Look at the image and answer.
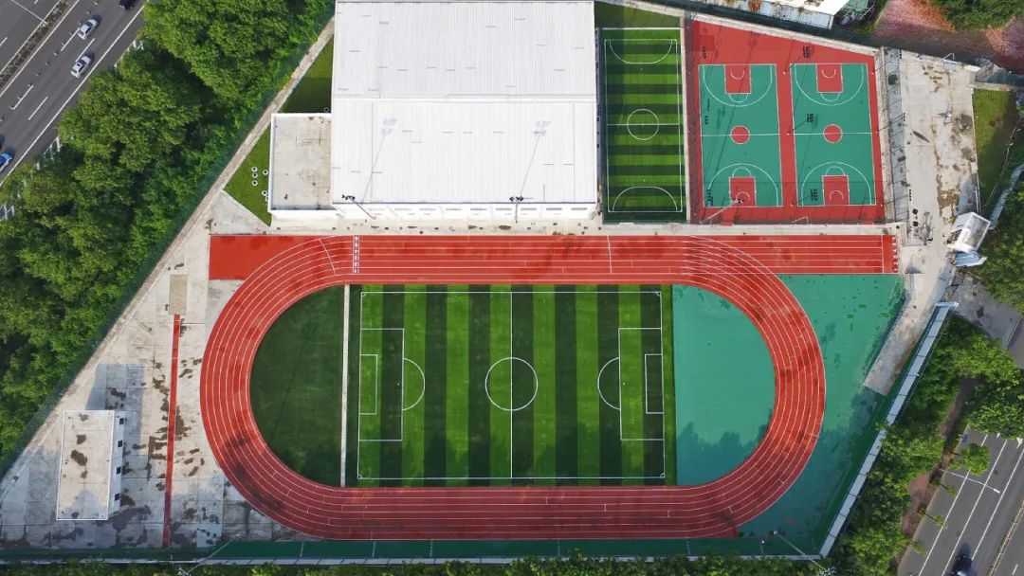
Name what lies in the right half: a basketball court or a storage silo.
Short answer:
basketball court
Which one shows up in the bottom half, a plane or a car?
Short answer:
car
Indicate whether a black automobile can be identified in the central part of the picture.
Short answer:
No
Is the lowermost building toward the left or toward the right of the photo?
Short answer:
left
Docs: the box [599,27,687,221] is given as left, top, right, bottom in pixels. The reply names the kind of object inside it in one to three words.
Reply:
sports field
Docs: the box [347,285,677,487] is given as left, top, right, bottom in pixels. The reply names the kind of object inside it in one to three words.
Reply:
sports field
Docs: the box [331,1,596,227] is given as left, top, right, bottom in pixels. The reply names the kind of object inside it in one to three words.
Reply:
building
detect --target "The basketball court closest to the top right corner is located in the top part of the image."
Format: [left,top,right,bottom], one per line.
[790,62,876,206]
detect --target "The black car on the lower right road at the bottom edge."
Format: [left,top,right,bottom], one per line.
[953,551,976,576]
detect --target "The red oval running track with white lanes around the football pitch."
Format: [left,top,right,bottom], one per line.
[199,234,900,541]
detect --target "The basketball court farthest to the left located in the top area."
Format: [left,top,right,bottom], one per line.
[698,63,784,207]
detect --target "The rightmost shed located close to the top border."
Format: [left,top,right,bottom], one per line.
[844,0,887,33]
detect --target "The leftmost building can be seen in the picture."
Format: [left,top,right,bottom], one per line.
[58,410,124,520]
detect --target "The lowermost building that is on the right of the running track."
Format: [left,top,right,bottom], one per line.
[941,213,990,268]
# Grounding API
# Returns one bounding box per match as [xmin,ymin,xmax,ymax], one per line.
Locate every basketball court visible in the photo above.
[698,63,784,207]
[790,62,876,206]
